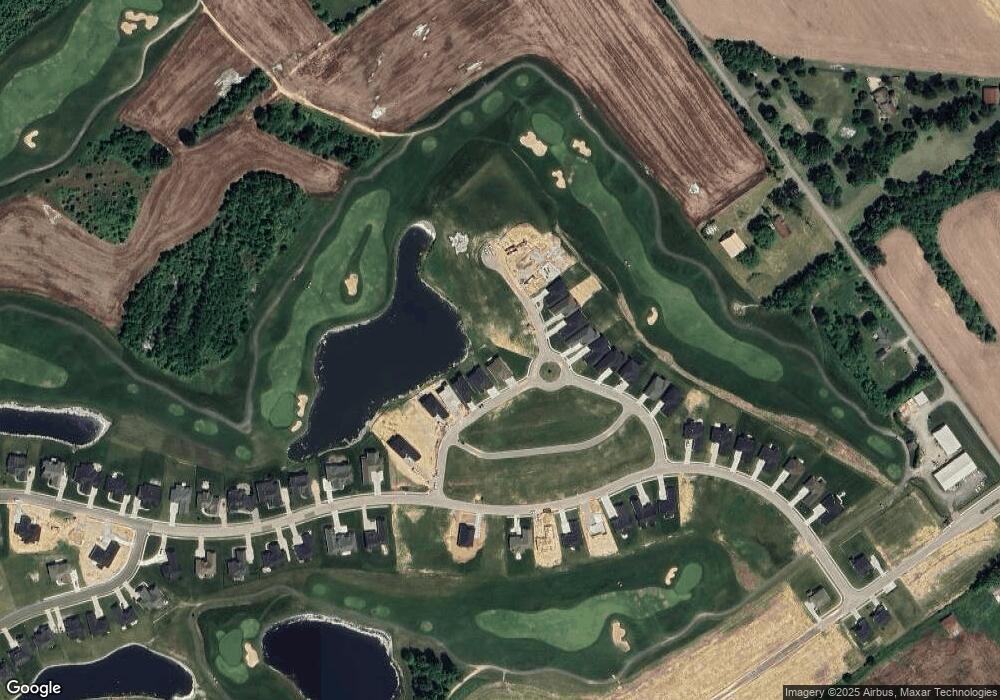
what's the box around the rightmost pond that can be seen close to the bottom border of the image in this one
[263,618,398,700]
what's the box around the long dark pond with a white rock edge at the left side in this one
[0,408,102,445]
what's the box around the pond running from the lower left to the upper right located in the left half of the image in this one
[289,226,468,460]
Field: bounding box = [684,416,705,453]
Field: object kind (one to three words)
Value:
house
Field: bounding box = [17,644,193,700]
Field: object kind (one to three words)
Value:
pond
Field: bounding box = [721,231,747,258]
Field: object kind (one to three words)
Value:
barn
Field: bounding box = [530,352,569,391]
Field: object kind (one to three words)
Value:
roundabout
